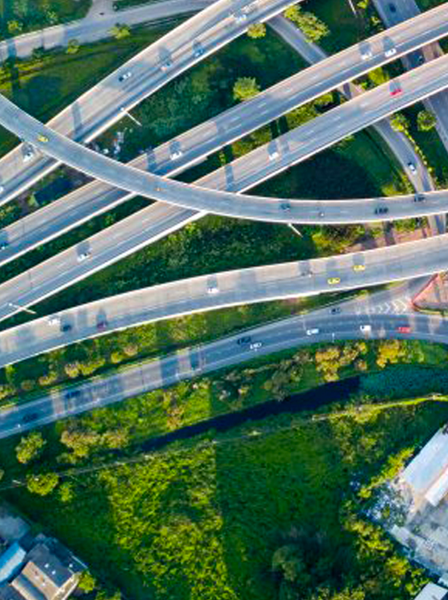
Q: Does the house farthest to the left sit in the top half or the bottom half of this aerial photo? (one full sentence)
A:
The house farthest to the left sits in the bottom half of the picture.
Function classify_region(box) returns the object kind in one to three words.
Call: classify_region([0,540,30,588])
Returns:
house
